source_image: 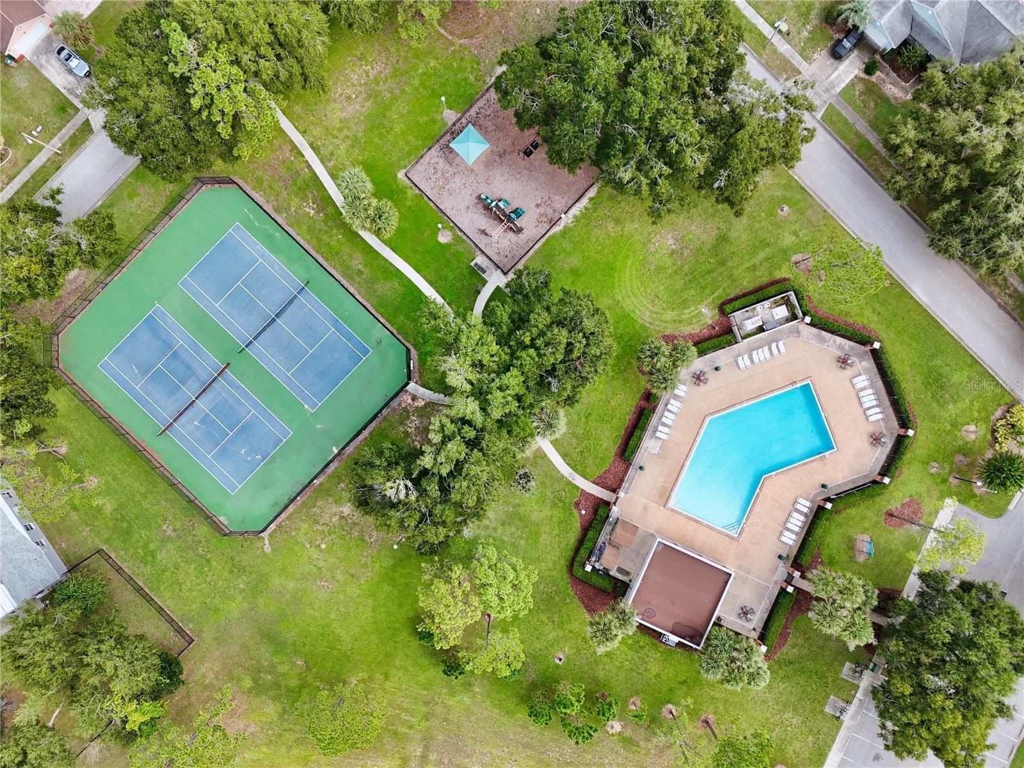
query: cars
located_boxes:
[55,44,93,79]
[830,27,866,63]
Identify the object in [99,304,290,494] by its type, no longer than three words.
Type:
tennis court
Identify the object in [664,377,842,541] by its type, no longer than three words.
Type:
swimming pool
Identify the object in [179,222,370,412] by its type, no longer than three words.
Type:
tennis court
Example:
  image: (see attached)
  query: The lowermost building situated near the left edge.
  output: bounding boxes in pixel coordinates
[0,473,67,625]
